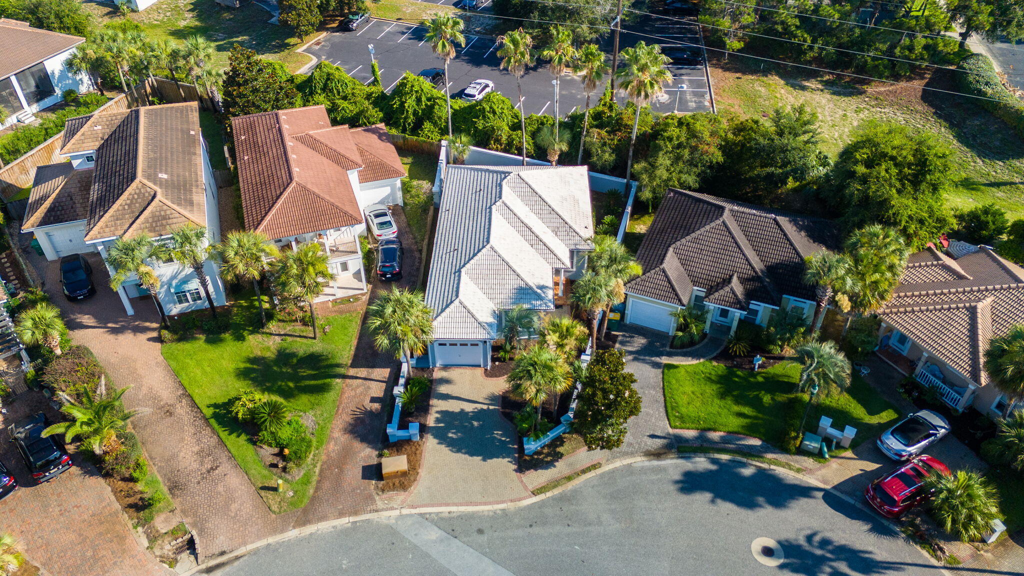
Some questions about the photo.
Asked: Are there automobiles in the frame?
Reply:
Yes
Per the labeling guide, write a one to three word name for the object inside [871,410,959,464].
car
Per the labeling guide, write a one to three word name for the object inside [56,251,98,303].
car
